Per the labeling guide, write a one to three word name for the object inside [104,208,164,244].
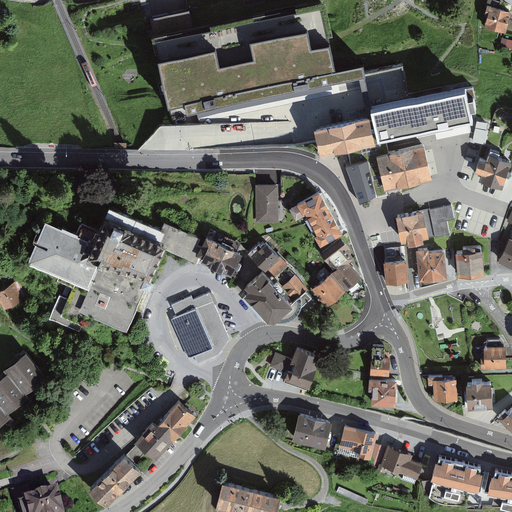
building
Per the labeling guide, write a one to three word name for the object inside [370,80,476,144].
building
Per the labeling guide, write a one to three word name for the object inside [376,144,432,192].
house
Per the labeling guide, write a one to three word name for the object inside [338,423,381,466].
house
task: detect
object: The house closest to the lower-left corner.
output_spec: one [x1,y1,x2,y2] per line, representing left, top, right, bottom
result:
[23,478,66,512]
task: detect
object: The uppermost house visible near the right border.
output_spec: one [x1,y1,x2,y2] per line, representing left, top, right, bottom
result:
[483,5,512,34]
